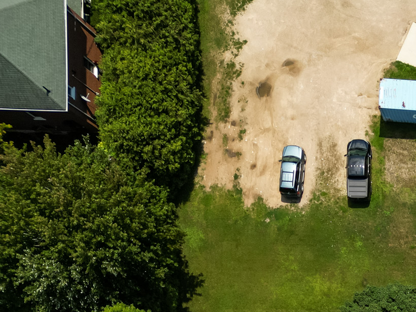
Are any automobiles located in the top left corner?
No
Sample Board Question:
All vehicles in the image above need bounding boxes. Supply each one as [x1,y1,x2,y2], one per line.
[345,138,373,202]
[277,144,304,197]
